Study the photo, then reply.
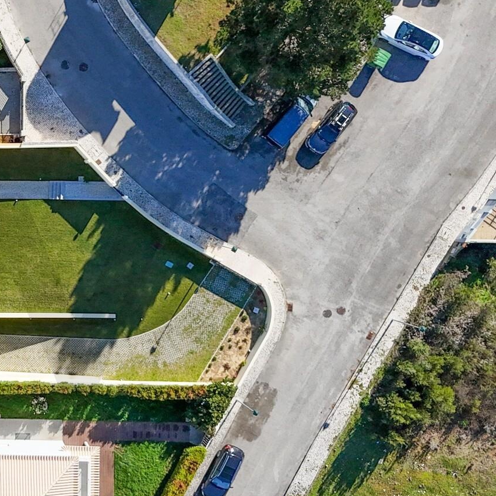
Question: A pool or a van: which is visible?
van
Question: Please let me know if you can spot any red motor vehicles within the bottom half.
No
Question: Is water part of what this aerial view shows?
No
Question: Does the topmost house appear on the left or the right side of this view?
right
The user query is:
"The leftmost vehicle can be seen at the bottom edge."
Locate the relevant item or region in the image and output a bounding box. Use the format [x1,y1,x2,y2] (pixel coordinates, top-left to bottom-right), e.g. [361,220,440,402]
[201,444,243,496]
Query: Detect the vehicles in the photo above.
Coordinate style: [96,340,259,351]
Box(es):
[201,444,243,496]
[306,99,355,156]
[390,20,440,58]
[260,101,311,153]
